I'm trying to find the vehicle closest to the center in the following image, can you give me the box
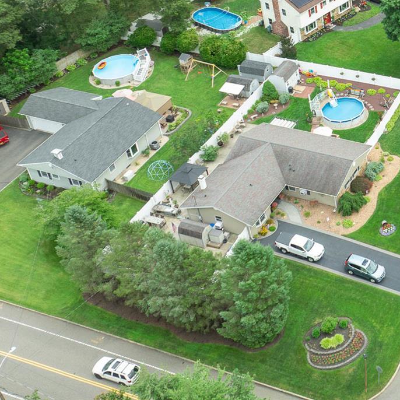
[272,231,327,260]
